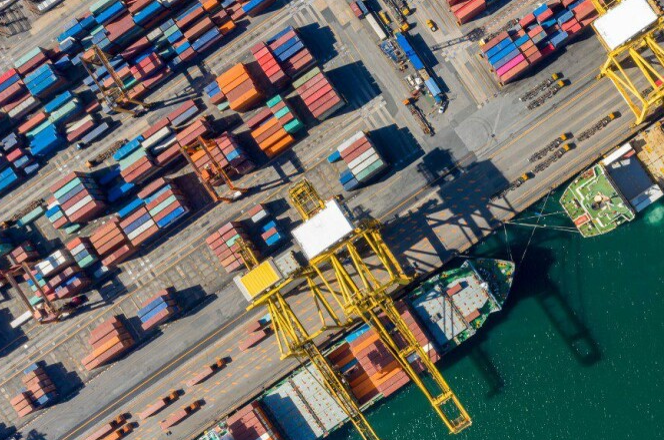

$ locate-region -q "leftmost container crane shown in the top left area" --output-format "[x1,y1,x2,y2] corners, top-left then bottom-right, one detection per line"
[75,44,153,118]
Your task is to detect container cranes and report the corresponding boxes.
[1,260,82,323]
[585,0,664,134]
[178,136,250,205]
[75,44,153,118]
[277,174,476,440]
[234,245,392,440]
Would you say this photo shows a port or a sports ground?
port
